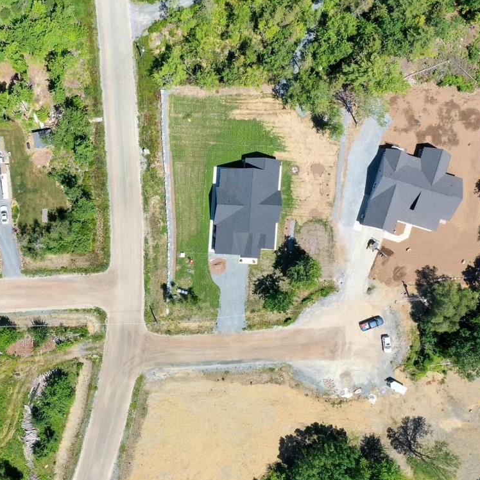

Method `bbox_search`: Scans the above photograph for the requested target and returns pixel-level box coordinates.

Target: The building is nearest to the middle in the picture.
[213,157,283,263]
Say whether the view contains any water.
No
